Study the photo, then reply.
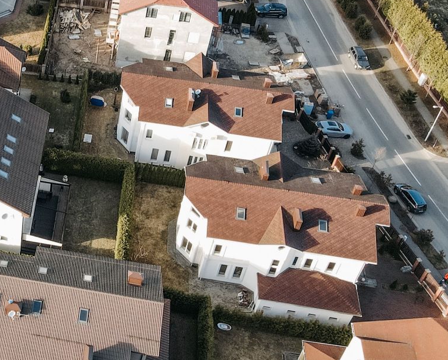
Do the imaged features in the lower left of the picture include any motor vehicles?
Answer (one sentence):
No, in the lower left of the picture there is no motor vehicle.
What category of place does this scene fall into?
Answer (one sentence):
It's a residential area.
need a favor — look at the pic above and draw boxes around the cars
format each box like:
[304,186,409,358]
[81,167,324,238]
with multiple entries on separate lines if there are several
[346,42,374,67]
[315,119,358,138]
[394,178,435,213]
[256,1,290,18]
